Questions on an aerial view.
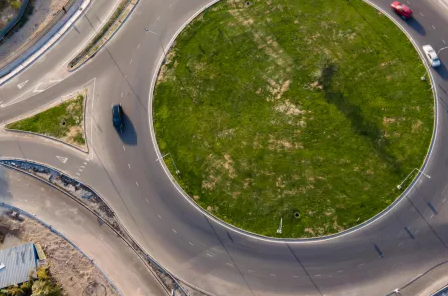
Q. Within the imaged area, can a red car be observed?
Yes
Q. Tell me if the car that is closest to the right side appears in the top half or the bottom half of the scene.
top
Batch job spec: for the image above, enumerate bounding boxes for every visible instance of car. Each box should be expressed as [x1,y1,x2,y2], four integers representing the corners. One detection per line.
[111,105,126,132]
[422,46,442,68]
[390,1,413,21]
